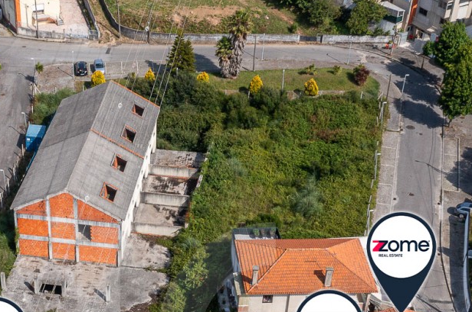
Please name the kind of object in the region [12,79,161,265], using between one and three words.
building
